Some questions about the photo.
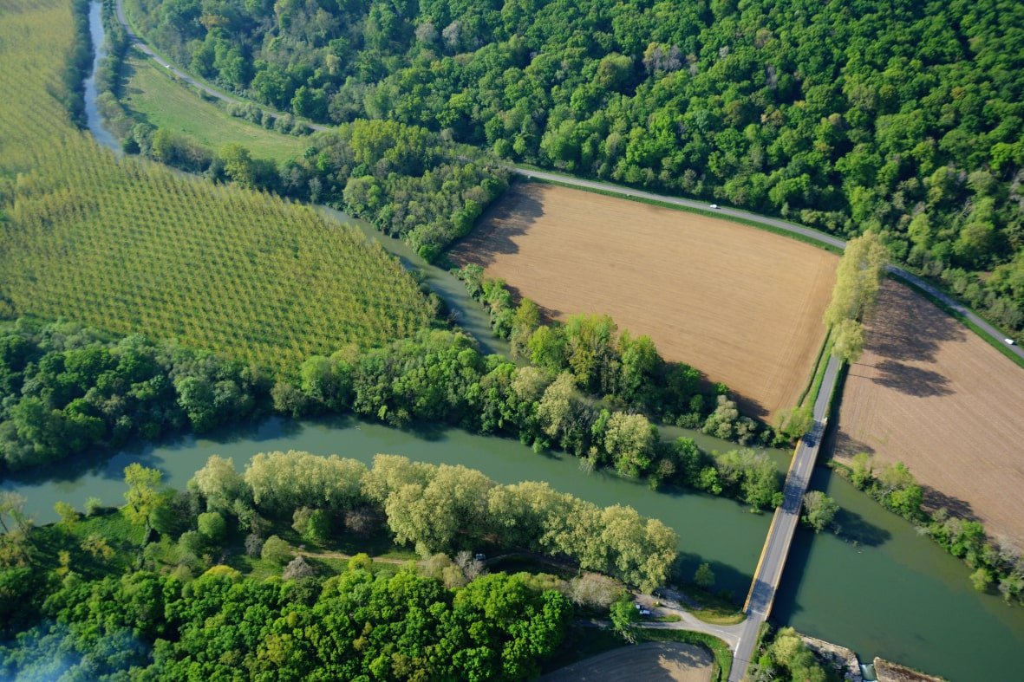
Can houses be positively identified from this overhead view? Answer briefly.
No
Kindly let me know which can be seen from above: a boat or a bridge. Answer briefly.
bridge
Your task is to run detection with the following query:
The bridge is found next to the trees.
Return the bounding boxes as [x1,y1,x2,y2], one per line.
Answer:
[744,422,825,620]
